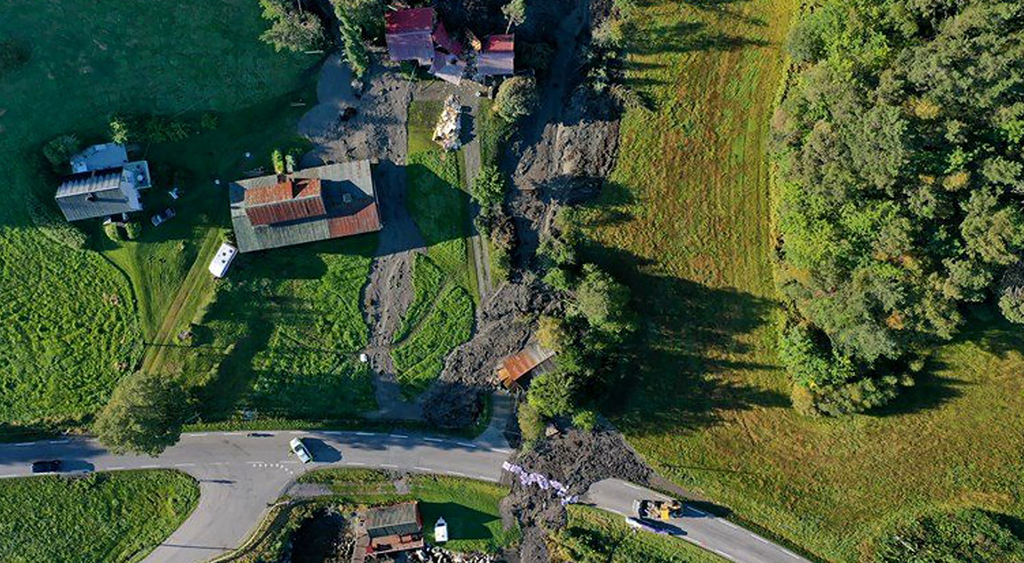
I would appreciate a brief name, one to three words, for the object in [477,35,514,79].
barn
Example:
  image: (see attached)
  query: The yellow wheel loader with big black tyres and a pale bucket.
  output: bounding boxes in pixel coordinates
[631,497,681,521]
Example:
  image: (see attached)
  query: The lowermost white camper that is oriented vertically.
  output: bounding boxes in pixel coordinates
[434,509,448,541]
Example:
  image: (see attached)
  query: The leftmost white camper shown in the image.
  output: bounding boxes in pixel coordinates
[210,240,241,277]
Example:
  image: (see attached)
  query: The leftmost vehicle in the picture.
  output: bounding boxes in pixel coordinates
[33,458,64,473]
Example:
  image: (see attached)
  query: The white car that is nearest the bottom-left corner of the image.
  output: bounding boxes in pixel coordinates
[289,436,314,464]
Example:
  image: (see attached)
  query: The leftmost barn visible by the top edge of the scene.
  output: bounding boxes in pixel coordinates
[386,10,437,71]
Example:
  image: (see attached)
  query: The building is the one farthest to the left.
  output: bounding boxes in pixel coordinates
[53,142,155,222]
